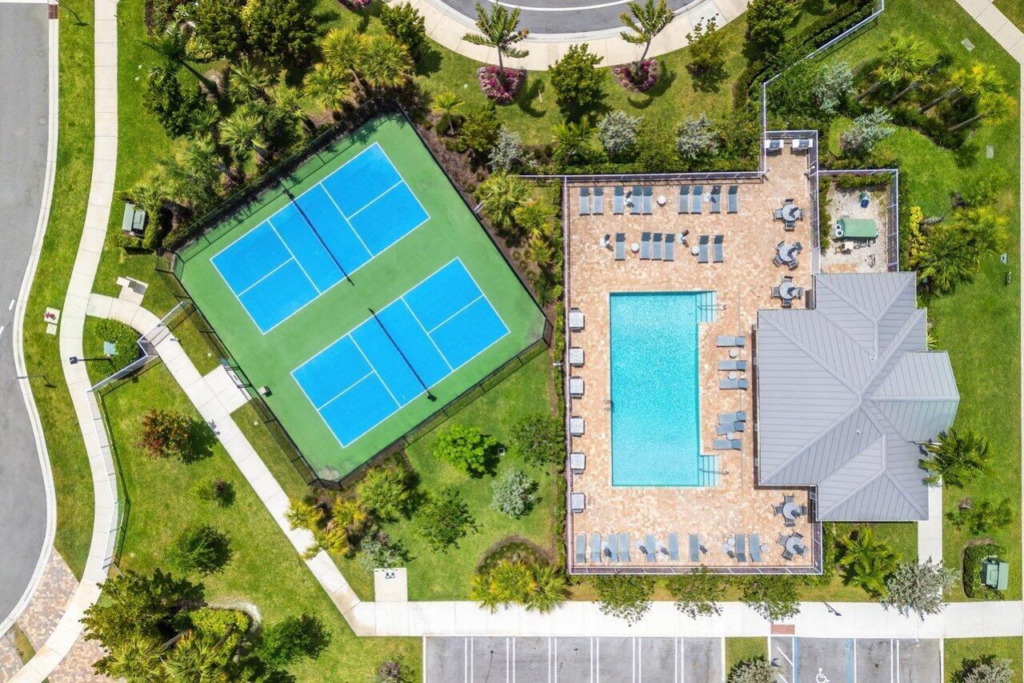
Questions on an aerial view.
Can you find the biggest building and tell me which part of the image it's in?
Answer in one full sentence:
Look in the right portion of the view to spot the biggest building.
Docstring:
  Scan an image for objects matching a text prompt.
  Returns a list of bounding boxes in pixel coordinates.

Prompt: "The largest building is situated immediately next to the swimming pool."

[753,271,959,523]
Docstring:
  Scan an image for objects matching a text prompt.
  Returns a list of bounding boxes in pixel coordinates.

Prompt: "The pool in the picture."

[601,288,726,490]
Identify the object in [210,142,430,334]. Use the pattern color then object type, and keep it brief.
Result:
blue sports court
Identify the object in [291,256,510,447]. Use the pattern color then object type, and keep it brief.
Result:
blue sports court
